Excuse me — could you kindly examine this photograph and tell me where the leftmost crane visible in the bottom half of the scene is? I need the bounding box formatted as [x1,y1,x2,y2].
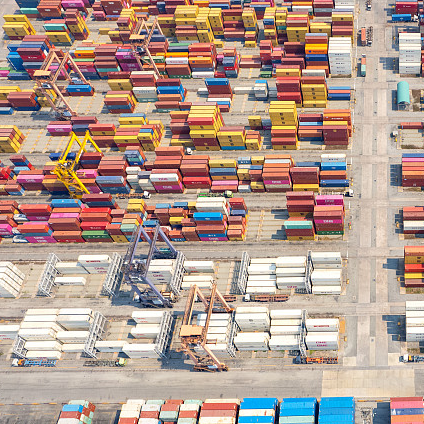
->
[127,229,182,311]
